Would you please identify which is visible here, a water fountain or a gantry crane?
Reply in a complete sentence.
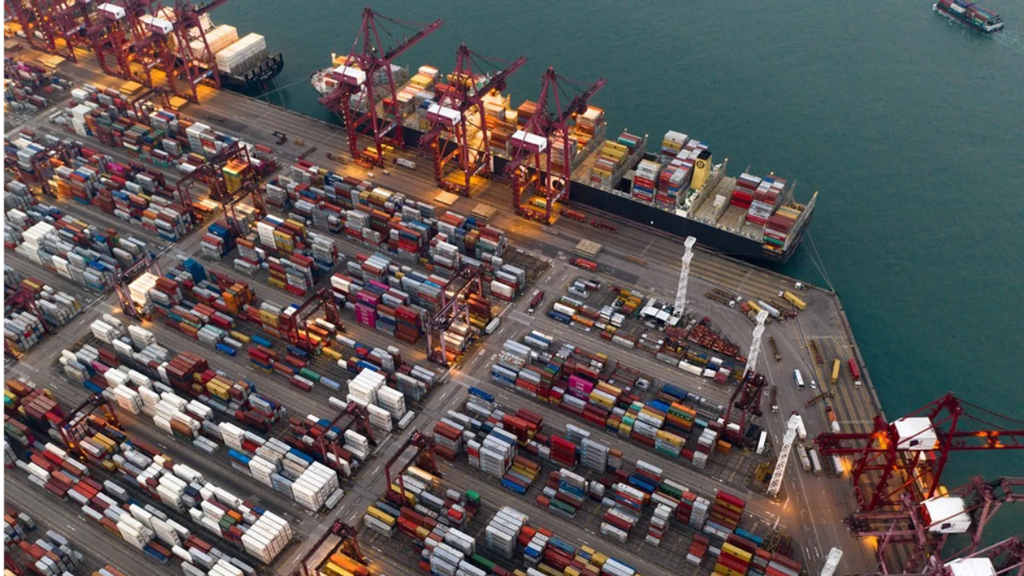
This aerial view contains a gantry crane.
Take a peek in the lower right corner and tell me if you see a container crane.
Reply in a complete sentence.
Yes, in the lower right corner there is a container crane.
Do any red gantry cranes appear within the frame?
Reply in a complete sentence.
Yes, the picture does show a red gantry crane.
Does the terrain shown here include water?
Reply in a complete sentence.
Yes, there is water in the image.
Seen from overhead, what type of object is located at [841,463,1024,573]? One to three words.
container crane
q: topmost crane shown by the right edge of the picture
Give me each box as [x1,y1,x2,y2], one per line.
[814,382,1024,516]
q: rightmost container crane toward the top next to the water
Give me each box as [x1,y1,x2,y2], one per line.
[492,60,605,225]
